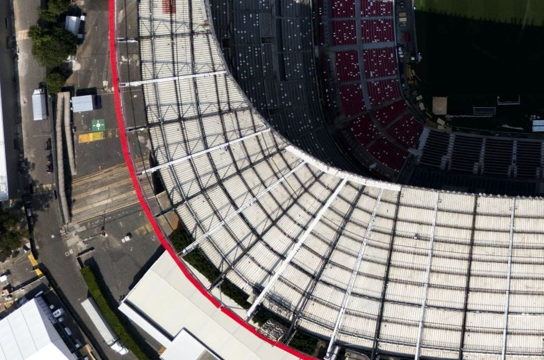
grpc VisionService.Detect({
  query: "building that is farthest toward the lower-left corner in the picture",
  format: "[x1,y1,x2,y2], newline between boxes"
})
[0,285,94,360]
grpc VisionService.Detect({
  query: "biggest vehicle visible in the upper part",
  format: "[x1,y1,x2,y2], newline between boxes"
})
[29,89,45,121]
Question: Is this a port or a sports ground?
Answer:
sports ground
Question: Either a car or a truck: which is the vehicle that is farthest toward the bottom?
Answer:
truck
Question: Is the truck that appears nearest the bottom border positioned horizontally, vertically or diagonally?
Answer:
diagonally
